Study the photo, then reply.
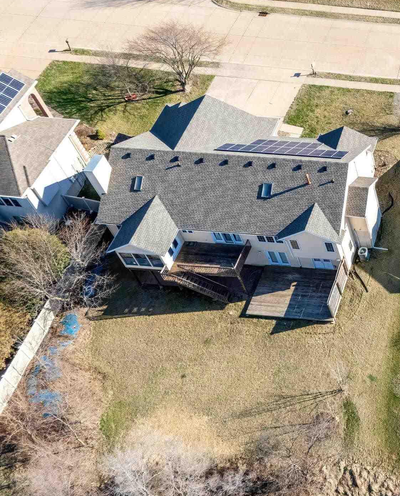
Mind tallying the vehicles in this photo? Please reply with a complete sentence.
The photo contains no vehicles.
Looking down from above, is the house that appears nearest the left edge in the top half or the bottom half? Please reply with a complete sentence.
Seen from above, the house that appears nearest the left edge lies in the top half of the view.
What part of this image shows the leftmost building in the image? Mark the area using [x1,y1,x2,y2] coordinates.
[0,64,81,217]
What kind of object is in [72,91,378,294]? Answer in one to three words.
house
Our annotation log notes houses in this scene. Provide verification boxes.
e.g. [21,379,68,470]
[72,91,378,294]
[0,64,81,217]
